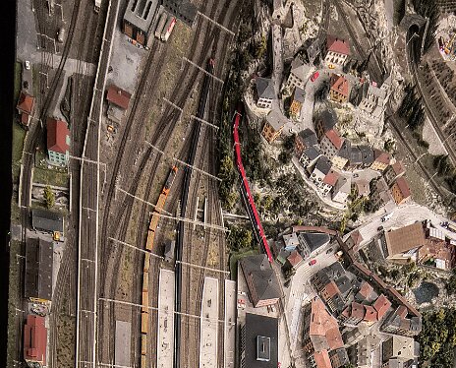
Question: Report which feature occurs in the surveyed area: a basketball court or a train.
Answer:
train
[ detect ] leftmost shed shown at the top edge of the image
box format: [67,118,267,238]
[122,0,164,40]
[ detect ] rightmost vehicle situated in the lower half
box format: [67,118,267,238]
[439,217,456,231]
